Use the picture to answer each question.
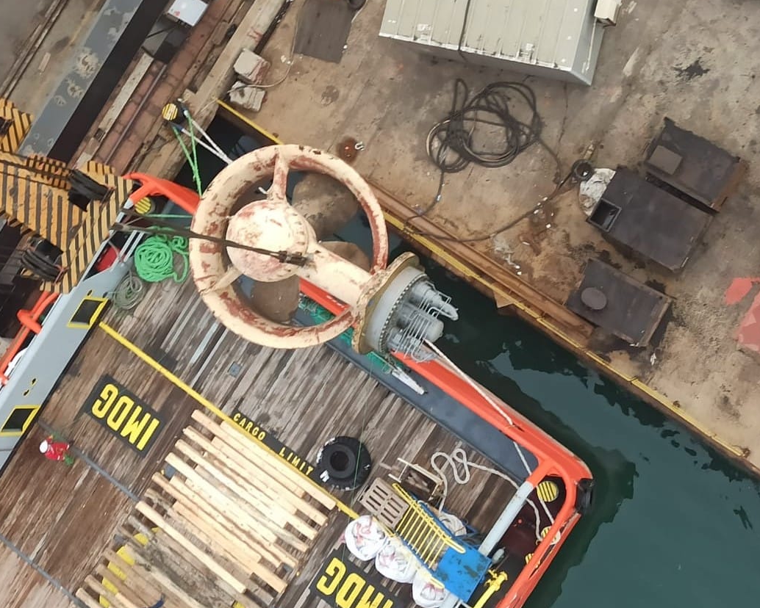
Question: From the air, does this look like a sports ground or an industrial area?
industrial area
